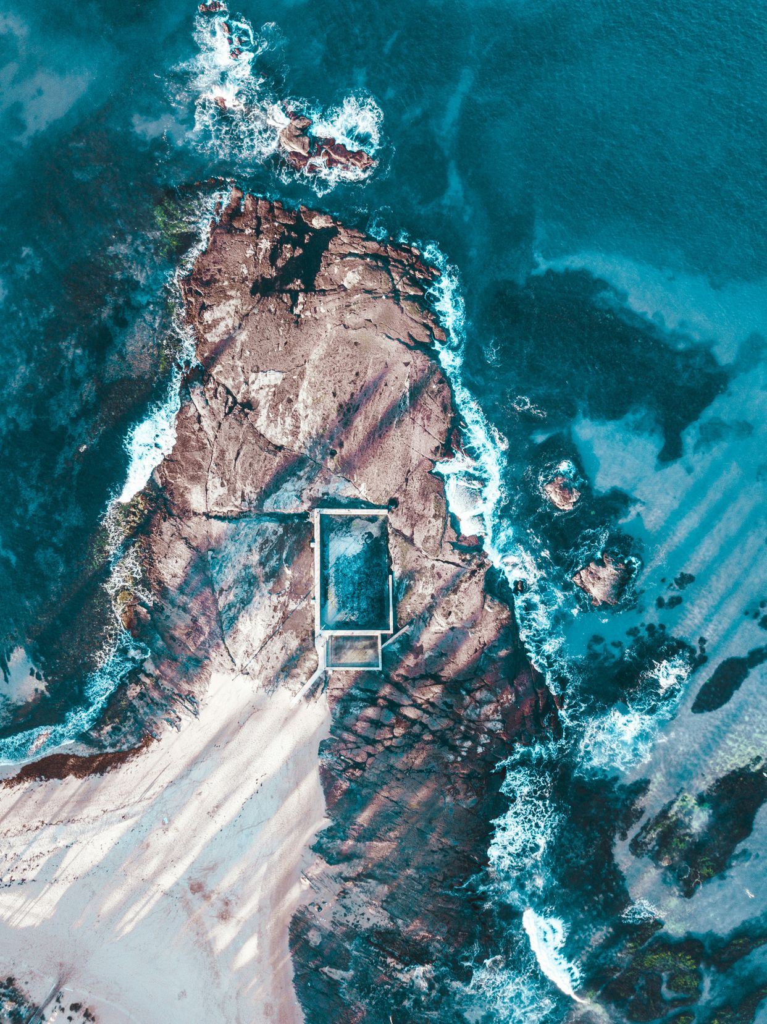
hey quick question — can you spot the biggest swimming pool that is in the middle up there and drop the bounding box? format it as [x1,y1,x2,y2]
[310,509,393,641]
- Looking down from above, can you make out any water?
Yes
